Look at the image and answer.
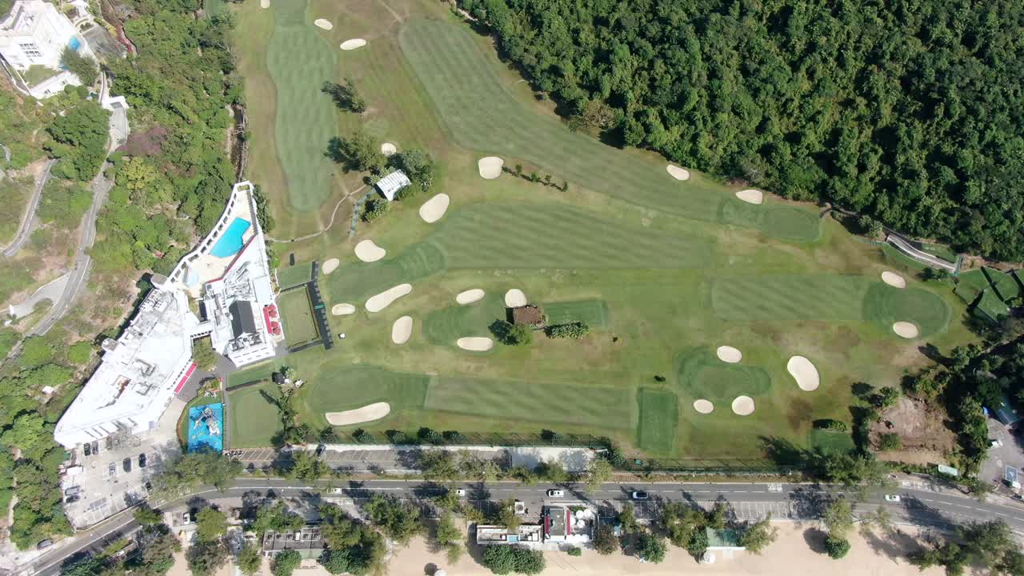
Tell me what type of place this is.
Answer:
golf course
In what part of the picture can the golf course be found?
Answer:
center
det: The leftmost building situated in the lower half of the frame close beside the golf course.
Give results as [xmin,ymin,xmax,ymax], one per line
[54,283,200,449]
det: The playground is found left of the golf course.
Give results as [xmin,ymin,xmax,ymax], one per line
[189,402,223,453]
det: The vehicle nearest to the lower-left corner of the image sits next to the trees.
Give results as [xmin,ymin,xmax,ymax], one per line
[37,538,54,550]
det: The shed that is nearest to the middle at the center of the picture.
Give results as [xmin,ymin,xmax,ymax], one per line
[513,307,544,326]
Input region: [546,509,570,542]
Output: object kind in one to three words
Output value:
building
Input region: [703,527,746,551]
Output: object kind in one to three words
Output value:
building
